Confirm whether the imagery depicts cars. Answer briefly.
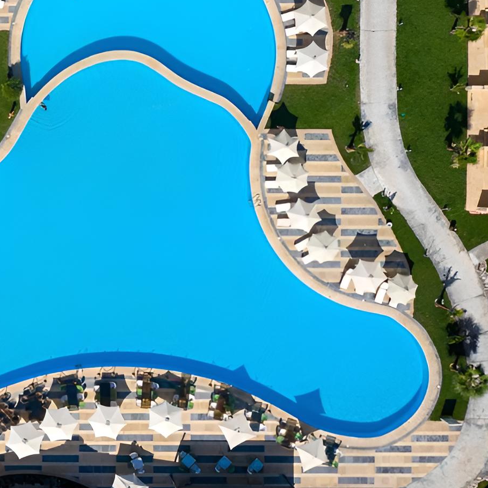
No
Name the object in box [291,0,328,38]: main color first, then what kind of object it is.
white umbrella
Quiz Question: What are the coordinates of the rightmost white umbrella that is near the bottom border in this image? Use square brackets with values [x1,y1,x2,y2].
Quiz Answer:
[289,434,325,469]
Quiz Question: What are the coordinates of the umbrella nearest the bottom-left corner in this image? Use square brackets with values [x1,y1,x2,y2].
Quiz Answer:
[7,417,44,457]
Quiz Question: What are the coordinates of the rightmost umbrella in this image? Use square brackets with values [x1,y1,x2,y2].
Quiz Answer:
[384,270,421,307]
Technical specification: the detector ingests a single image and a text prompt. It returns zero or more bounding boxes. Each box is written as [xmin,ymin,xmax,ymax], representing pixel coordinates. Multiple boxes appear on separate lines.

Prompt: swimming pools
[0,61,427,435]
[21,0,275,125]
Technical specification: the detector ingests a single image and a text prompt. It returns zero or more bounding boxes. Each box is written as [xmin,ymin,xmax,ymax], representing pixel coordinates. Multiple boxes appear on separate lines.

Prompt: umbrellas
[286,193,323,233]
[41,401,79,441]
[272,159,312,196]
[267,125,301,161]
[215,406,256,447]
[301,227,341,266]
[7,417,44,457]
[289,434,325,469]
[384,270,421,307]
[295,38,330,78]
[347,253,385,295]
[88,399,125,438]
[147,394,183,436]
[111,465,148,488]
[291,0,328,38]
